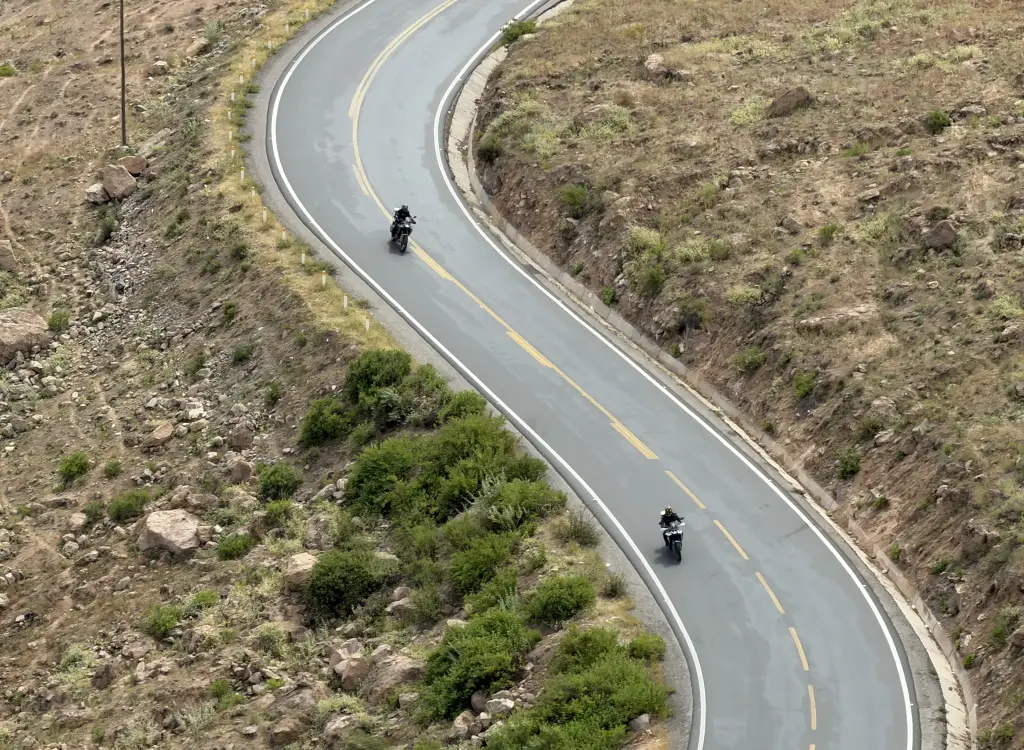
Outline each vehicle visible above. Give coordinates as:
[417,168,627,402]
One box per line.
[658,521,687,563]
[390,216,418,253]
